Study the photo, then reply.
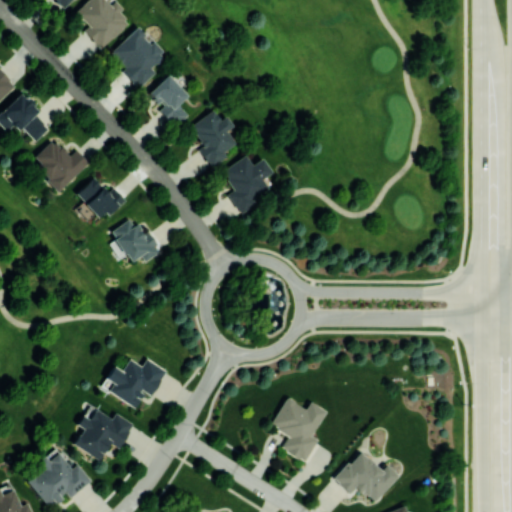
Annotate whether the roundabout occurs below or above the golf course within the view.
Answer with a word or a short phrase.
below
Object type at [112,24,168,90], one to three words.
house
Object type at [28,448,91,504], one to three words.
house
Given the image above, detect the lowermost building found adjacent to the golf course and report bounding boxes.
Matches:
[226,156,274,215]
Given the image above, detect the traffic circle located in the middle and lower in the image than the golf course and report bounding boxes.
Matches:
[200,246,309,366]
